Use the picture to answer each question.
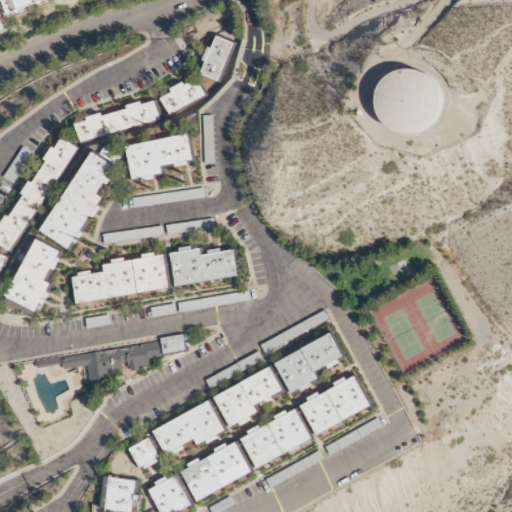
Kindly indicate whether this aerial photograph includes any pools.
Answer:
Yes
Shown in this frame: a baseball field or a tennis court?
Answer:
tennis court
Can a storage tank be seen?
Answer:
Yes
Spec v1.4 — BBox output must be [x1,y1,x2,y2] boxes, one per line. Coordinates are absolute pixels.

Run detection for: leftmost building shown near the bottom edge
[100,476,139,512]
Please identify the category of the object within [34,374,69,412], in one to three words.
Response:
swimming pool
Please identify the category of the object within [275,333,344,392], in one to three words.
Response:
building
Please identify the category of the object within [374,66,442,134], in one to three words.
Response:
storage tank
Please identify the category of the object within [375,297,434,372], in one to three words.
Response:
tennis court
